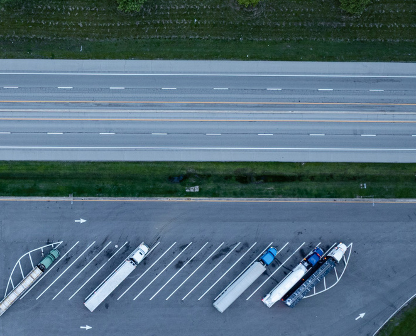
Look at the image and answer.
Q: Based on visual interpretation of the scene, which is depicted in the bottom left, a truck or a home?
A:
truck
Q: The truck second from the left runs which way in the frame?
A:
at an angle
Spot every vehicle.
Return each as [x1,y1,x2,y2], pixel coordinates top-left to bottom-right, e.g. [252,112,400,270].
[84,242,148,311]
[282,242,345,308]
[211,246,276,312]
[262,245,323,308]
[0,248,60,316]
